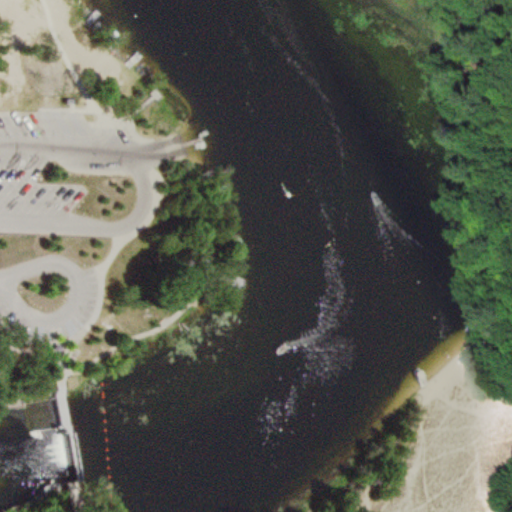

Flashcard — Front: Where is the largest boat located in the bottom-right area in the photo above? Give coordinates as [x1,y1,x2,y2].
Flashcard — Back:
[414,368,430,387]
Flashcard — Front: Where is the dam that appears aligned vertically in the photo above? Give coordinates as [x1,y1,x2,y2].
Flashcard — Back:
[58,380,84,504]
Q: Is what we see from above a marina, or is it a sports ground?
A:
marina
